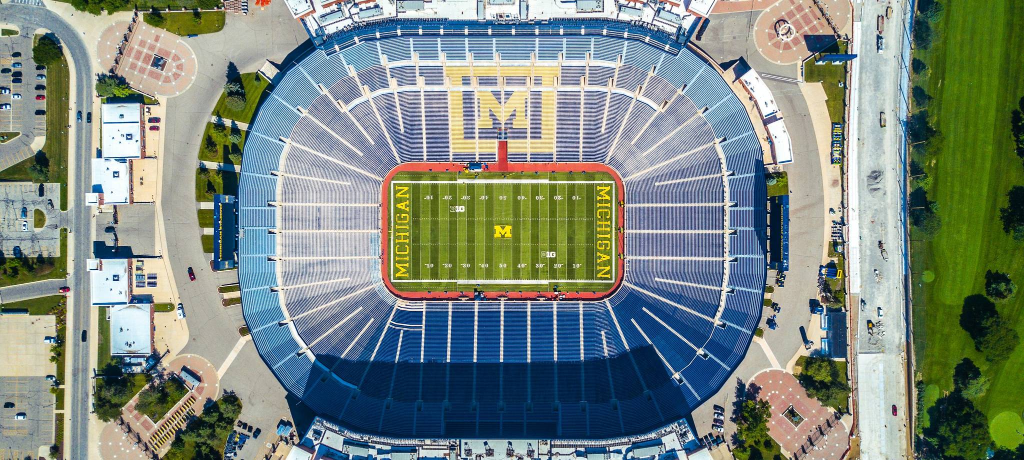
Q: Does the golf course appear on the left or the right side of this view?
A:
right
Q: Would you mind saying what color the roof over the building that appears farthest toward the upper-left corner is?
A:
white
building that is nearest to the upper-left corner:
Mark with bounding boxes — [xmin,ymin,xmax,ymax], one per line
[102,104,145,159]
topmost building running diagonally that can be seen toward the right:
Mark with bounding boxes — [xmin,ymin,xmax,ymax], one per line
[737,69,778,120]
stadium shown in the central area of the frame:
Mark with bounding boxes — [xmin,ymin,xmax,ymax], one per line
[236,38,770,434]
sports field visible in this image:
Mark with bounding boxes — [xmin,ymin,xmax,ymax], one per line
[388,171,618,292]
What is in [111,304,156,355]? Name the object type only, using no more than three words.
building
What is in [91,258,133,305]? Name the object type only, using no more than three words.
building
